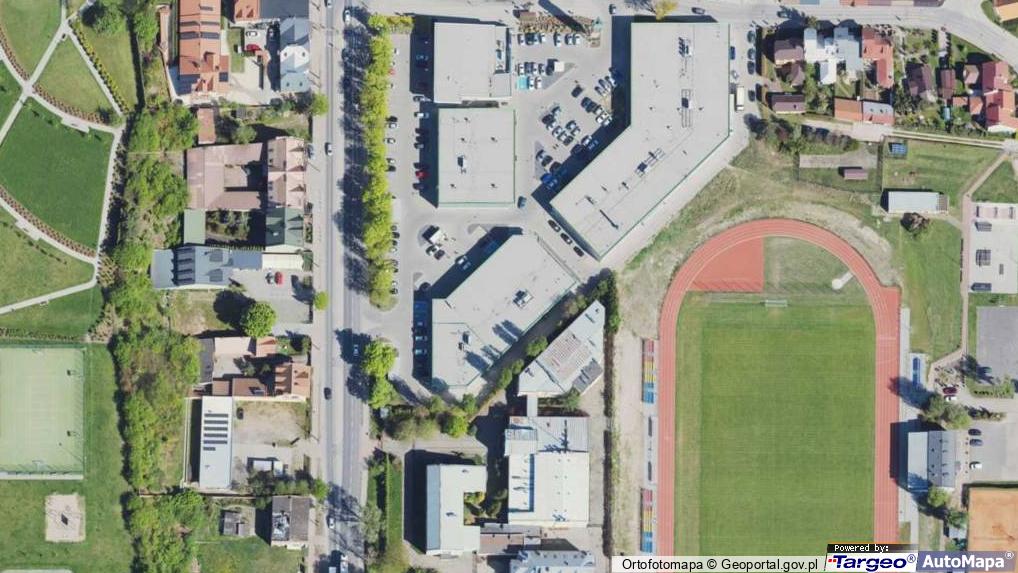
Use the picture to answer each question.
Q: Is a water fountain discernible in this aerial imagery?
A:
No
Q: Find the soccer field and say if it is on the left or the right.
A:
right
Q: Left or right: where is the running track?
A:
right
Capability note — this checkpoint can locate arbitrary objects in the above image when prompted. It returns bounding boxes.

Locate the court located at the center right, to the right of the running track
[977,306,1018,384]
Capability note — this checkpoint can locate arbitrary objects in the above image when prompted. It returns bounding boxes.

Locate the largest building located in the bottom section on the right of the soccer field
[908,430,955,494]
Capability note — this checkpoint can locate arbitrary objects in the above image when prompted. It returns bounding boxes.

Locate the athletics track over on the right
[658,220,900,573]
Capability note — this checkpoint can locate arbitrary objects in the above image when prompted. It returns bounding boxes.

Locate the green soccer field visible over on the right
[676,238,875,573]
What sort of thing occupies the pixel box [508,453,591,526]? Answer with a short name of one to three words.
building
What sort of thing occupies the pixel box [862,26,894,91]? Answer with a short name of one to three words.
house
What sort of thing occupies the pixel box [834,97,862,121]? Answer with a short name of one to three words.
barn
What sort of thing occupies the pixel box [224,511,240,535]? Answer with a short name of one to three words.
shed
